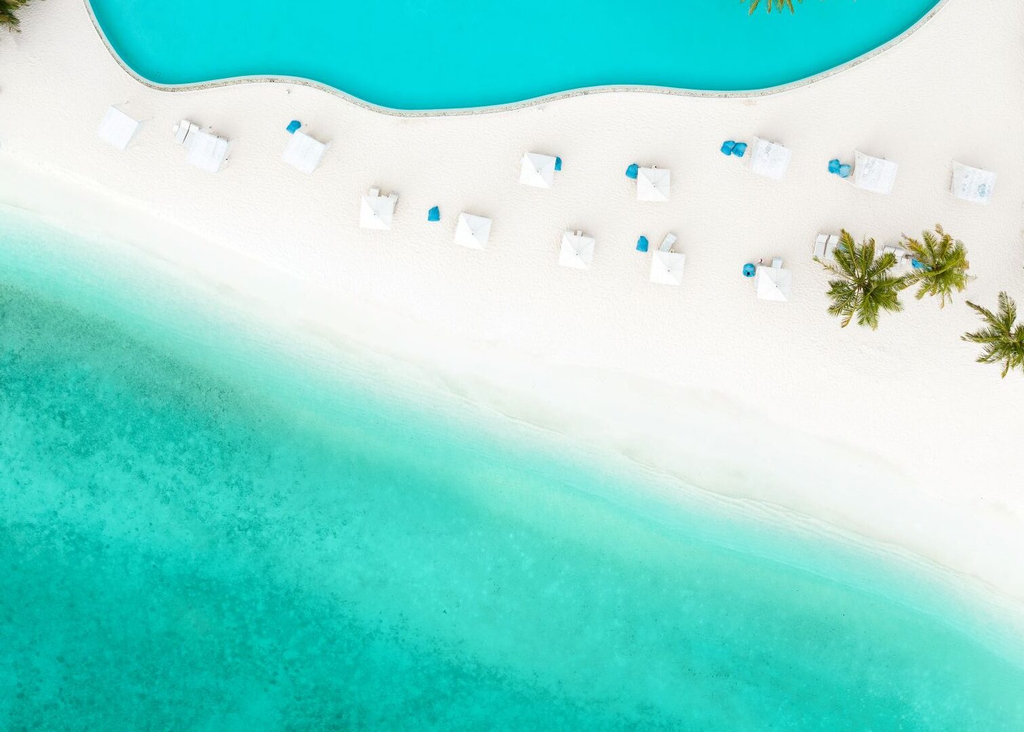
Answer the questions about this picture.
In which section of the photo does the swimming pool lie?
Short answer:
top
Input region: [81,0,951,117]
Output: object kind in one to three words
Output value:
swimming pool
